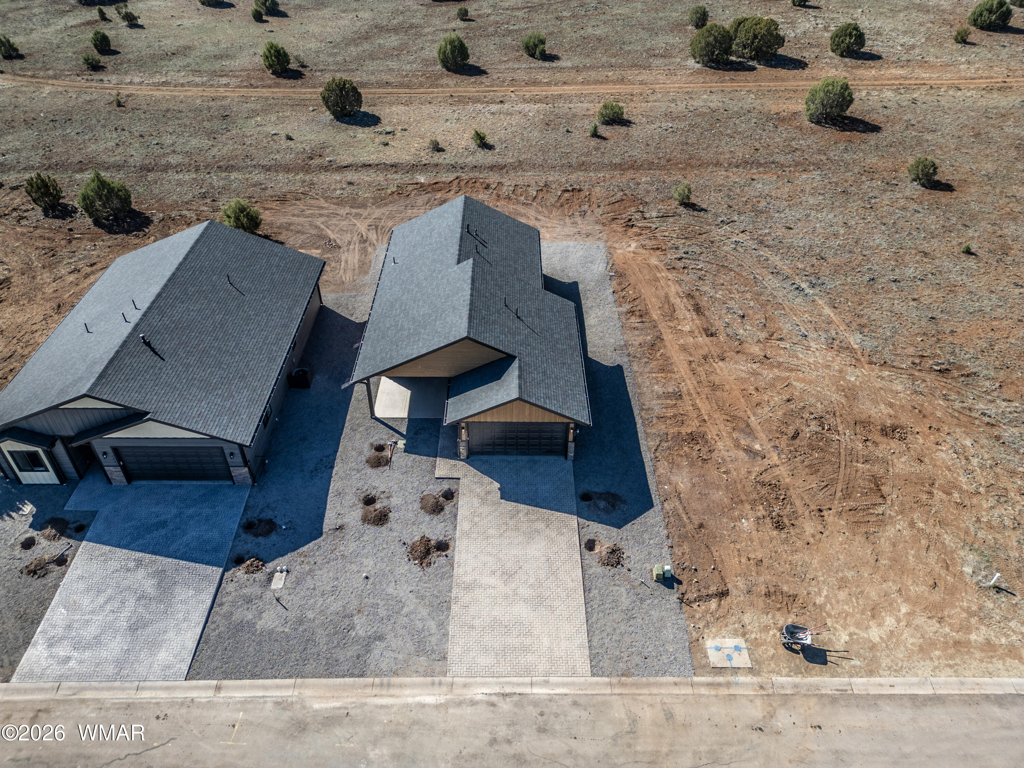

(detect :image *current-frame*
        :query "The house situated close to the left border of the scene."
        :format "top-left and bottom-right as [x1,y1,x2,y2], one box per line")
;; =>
[0,220,327,485]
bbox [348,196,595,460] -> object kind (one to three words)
house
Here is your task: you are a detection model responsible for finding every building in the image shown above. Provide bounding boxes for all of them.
[0,220,327,485]
[348,196,595,460]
